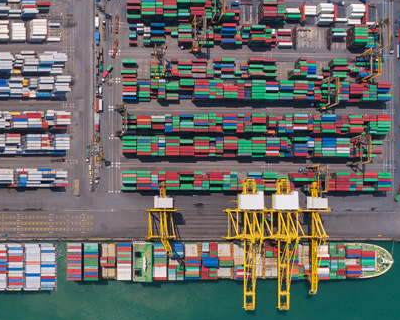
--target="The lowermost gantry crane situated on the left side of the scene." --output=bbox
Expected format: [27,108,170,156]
[137,182,179,251]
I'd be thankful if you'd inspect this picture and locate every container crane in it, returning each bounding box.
[365,15,390,51]
[316,74,339,109]
[148,42,165,77]
[137,182,179,251]
[111,102,128,135]
[285,185,332,294]
[187,15,206,51]
[305,161,328,193]
[347,131,371,163]
[252,176,305,312]
[357,45,381,79]
[216,176,268,312]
